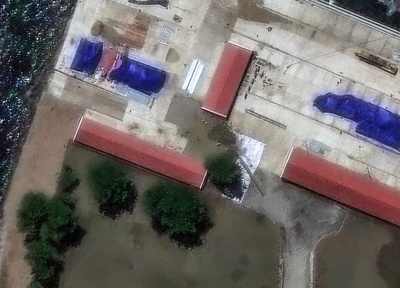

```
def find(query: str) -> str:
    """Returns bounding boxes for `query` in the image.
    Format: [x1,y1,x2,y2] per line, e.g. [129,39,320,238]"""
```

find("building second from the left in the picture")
[202,42,253,118]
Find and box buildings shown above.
[281,147,400,226]
[202,42,253,118]
[75,117,206,188]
